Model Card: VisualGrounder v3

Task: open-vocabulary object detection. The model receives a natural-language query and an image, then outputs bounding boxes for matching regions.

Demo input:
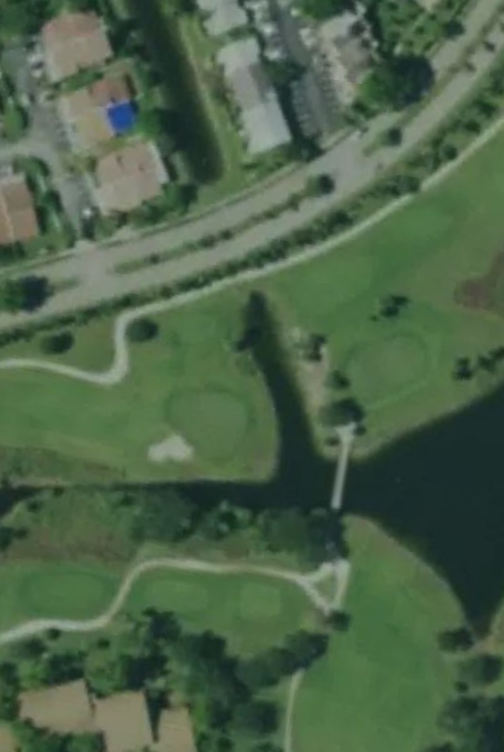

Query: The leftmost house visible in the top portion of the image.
[0,174,36,243]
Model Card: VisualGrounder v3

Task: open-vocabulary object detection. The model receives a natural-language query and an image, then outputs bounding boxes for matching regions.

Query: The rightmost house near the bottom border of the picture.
[158,709,196,752]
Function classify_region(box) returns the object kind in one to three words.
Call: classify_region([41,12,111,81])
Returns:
house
